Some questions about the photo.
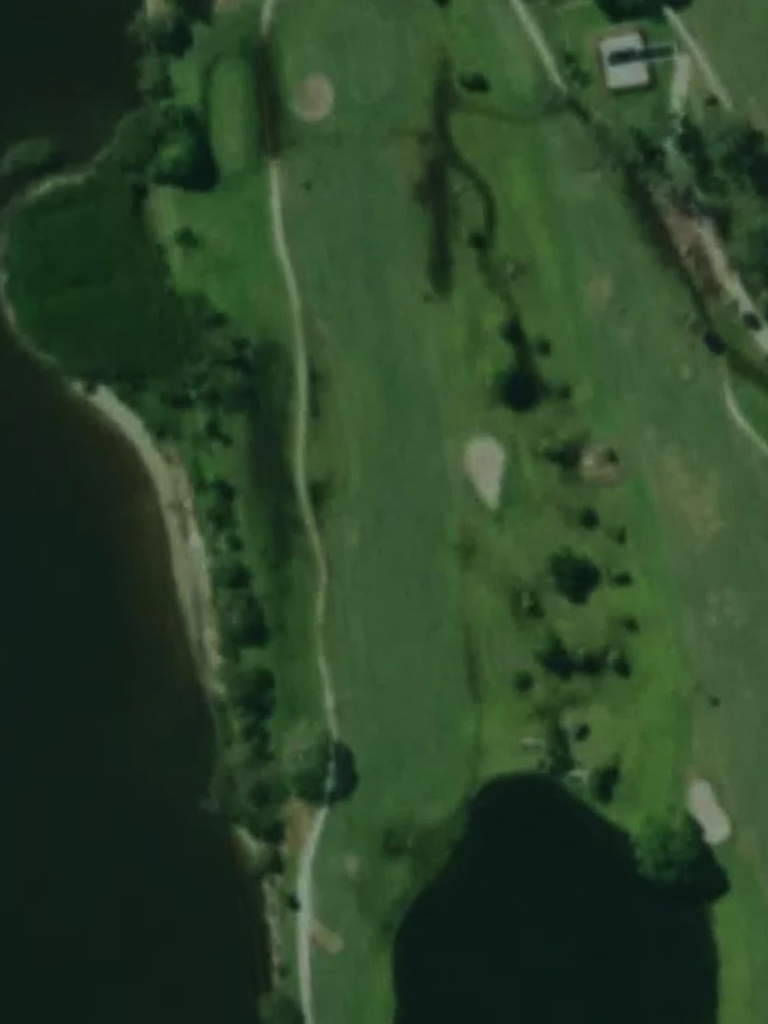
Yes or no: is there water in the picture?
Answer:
Yes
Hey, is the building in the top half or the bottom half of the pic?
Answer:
top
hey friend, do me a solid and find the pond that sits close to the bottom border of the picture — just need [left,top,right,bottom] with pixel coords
[392,774,720,1024]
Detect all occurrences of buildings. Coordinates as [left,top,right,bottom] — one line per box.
[600,33,648,87]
